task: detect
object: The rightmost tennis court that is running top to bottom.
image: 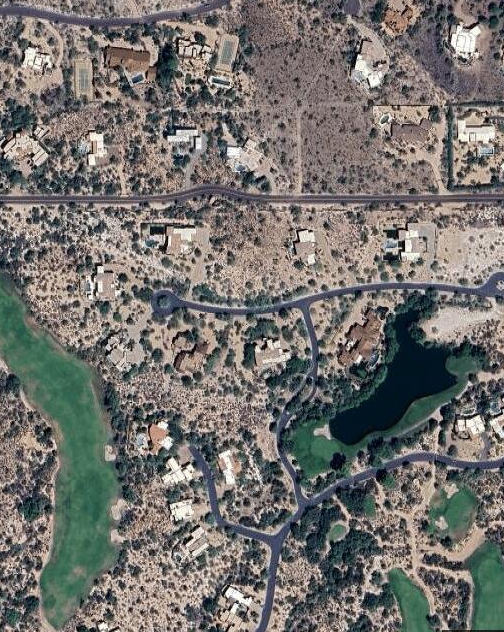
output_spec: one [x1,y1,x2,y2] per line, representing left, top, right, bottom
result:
[216,34,238,71]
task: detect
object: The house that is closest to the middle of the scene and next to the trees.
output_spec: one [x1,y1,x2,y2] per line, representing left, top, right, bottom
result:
[255,338,291,366]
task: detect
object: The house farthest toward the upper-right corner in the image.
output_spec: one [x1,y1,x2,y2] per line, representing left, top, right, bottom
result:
[449,24,483,59]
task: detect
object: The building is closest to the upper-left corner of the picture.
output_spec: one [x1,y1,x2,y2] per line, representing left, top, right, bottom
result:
[21,46,55,74]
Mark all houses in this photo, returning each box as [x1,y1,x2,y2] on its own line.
[106,46,157,82]
[3,132,50,168]
[218,448,242,485]
[294,229,316,266]
[398,230,428,263]
[166,129,202,151]
[174,336,210,372]
[390,116,434,141]
[255,338,291,366]
[488,408,504,439]
[457,414,485,435]
[167,456,195,485]
[148,419,175,454]
[87,132,108,167]
[166,226,197,256]
[352,39,384,90]
[184,525,211,559]
[170,499,194,522]
[178,39,213,62]
[105,336,133,372]
[384,7,414,35]
[226,139,265,173]
[21,46,55,74]
[338,312,383,365]
[457,119,496,146]
[449,24,483,59]
[97,621,121,632]
[219,586,253,632]
[85,265,121,303]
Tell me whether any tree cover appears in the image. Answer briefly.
Yes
